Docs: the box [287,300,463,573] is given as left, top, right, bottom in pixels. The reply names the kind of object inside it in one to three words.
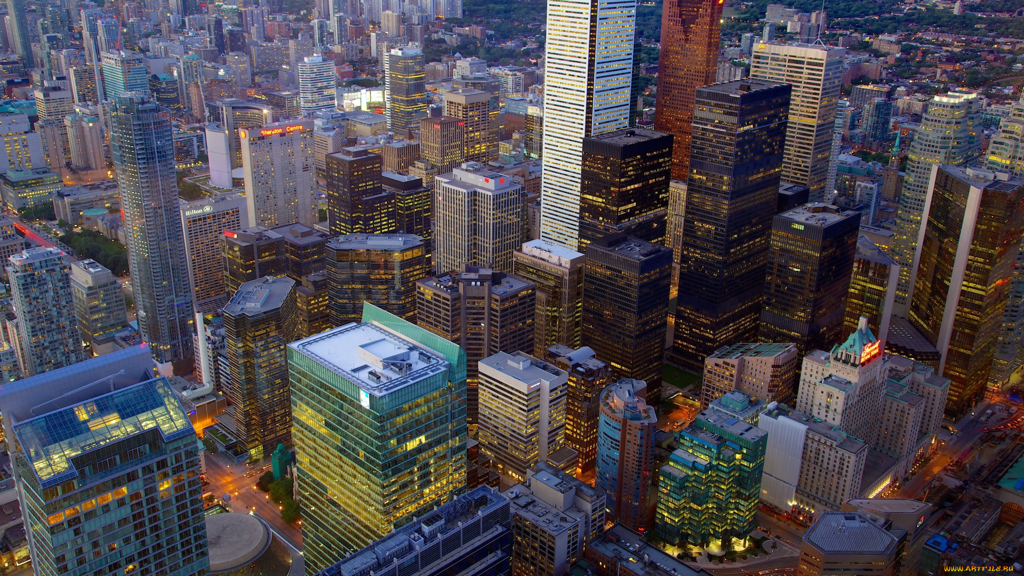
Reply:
building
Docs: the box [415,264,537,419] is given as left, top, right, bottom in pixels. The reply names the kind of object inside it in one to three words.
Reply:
building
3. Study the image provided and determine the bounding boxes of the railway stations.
[995,458,1024,525]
